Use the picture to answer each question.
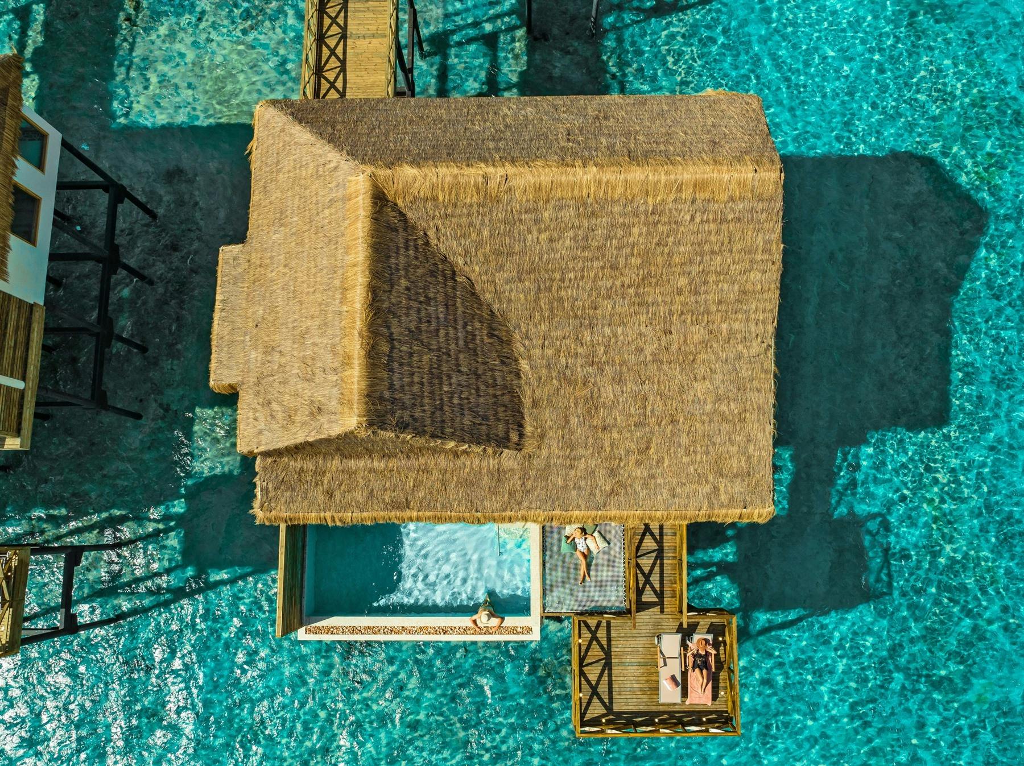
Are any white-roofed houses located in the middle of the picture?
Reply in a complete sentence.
No, no white-roofed house is visible in the middle of the picture.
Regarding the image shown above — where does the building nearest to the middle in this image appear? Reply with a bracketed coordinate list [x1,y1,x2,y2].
[211,88,790,523]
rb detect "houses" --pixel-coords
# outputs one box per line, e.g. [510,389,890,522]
[211,88,790,523]
[0,50,160,461]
